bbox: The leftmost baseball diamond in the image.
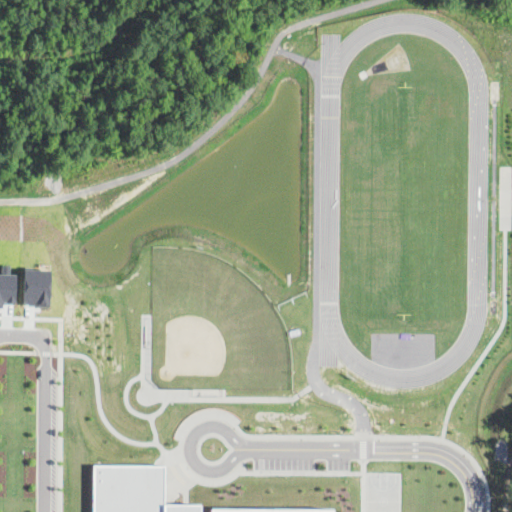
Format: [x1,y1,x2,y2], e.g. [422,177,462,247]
[153,248,292,389]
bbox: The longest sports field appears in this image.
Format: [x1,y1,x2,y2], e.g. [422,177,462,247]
[340,34,468,361]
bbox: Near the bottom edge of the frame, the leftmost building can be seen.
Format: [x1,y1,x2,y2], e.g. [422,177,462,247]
[92,464,166,512]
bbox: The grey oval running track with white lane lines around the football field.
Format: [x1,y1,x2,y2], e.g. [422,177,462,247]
[320,14,488,389]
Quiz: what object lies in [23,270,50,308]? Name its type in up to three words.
house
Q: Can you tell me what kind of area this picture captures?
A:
sports ground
